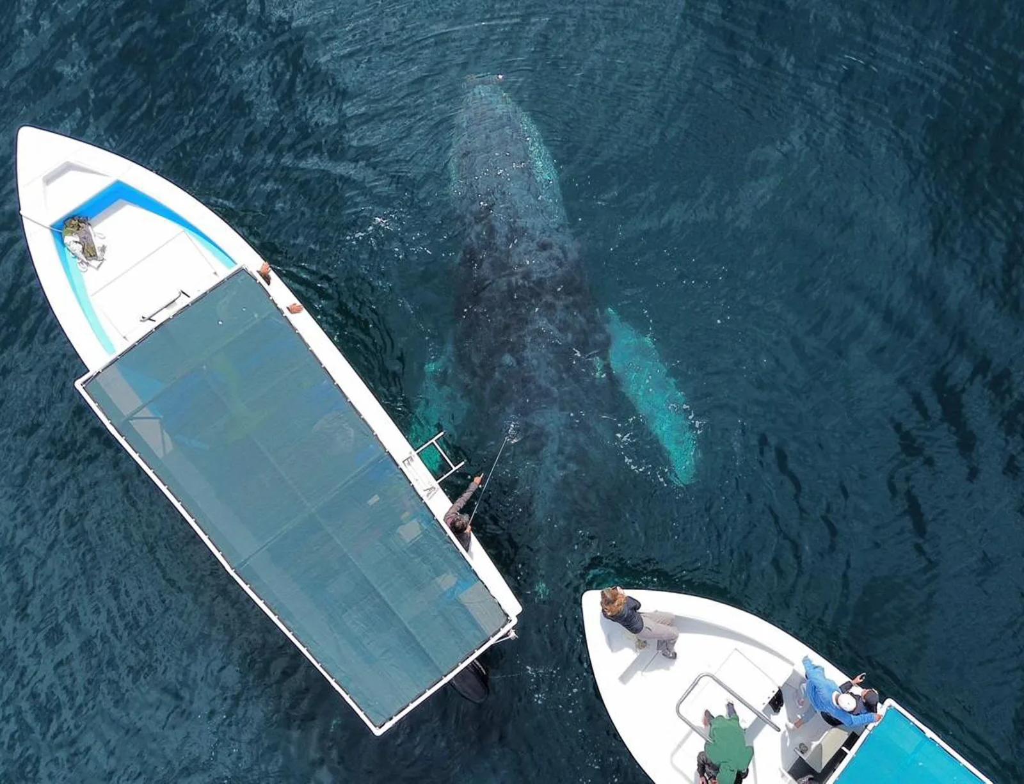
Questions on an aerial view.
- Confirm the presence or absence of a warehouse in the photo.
No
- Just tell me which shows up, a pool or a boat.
boat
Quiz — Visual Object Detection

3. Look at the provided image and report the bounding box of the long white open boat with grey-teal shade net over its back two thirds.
[8,120,521,733]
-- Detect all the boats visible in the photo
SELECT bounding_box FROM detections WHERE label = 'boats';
[8,120,521,733]
[576,585,1005,784]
